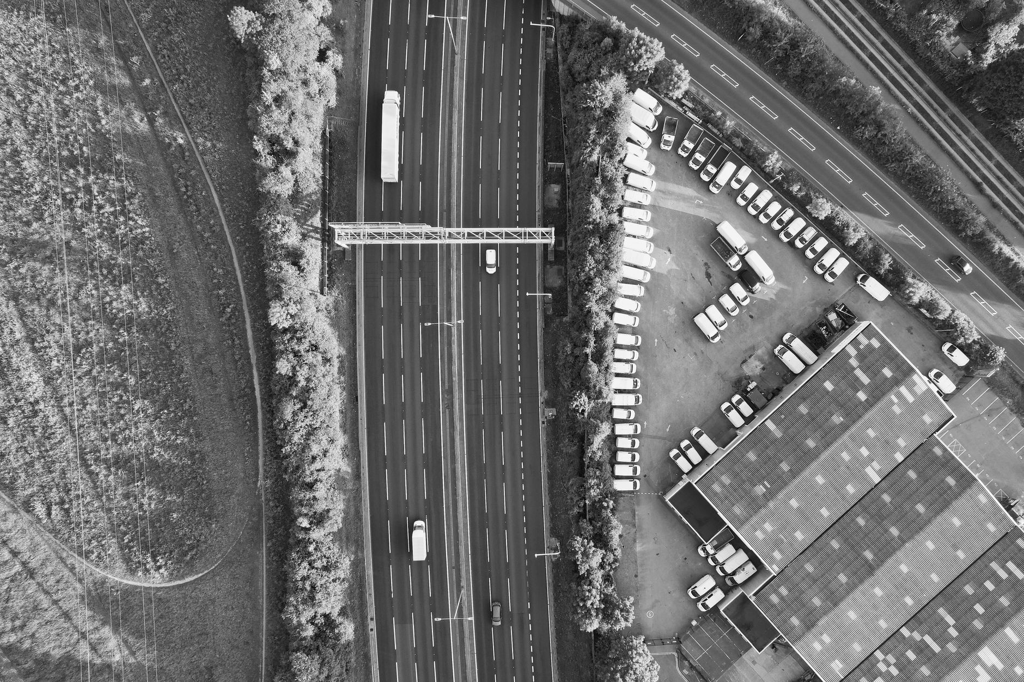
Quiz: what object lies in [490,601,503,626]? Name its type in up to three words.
vehicle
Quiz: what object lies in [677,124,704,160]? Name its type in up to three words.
truck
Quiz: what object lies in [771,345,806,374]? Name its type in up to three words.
van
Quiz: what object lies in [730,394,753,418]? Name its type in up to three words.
vehicle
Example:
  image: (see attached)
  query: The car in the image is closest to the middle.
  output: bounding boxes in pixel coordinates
[484,249,497,274]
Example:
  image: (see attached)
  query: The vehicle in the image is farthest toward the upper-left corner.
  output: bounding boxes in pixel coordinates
[383,93,401,181]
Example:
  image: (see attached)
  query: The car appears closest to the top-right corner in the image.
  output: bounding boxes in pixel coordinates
[949,254,972,275]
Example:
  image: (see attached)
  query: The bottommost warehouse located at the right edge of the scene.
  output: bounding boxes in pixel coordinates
[682,321,1024,682]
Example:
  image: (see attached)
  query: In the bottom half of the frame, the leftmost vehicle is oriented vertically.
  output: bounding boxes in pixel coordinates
[412,520,426,562]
